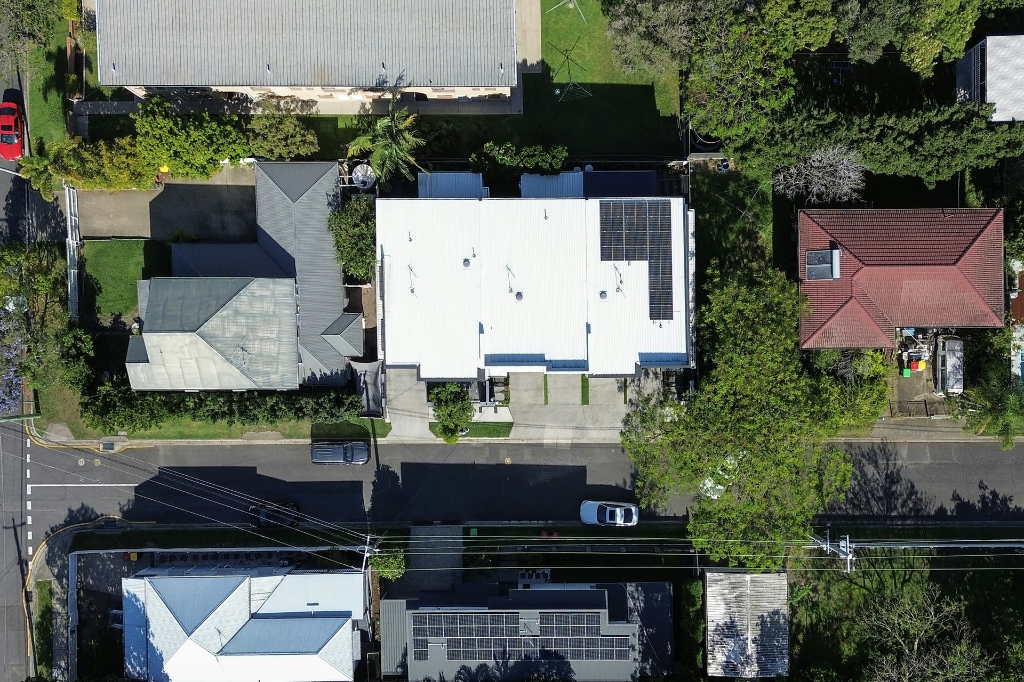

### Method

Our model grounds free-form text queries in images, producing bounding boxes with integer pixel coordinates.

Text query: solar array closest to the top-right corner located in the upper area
[600,202,674,320]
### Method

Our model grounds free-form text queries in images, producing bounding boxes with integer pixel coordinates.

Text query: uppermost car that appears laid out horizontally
[309,439,370,468]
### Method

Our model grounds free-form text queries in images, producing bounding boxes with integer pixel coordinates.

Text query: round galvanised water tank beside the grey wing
[351,163,380,192]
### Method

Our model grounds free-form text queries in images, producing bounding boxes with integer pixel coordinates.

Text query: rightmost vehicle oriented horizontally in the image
[578,499,636,527]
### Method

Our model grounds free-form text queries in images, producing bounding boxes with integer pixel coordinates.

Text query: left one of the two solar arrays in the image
[412,615,630,660]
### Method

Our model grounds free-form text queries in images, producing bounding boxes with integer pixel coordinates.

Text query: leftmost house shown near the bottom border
[109,565,372,682]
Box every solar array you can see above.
[412,615,630,660]
[600,202,674,320]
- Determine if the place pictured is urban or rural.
urban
